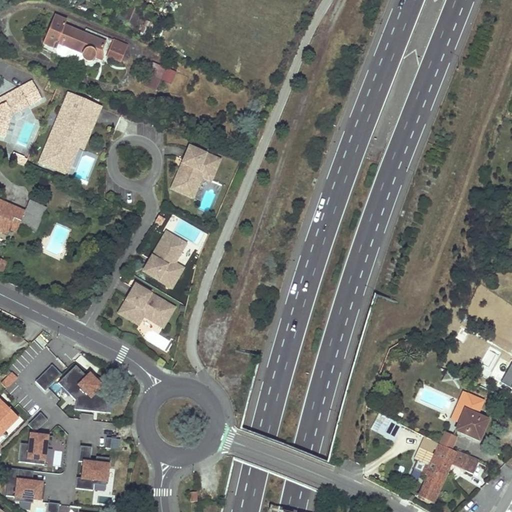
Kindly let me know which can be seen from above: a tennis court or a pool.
pool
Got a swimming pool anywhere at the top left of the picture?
Yes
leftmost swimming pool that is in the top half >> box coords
[6,109,40,158]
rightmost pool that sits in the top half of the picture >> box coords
[193,181,222,210]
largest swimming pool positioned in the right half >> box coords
[415,384,458,422]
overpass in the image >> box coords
[232,426,338,490]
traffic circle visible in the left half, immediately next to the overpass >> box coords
[126,355,237,473]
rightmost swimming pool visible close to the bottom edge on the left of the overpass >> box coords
[92,468,115,506]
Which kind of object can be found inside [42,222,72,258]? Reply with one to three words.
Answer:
swimming pool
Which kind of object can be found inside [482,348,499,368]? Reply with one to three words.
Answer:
swimming pool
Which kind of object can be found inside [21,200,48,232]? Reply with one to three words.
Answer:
building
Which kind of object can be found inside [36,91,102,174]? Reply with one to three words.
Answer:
house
